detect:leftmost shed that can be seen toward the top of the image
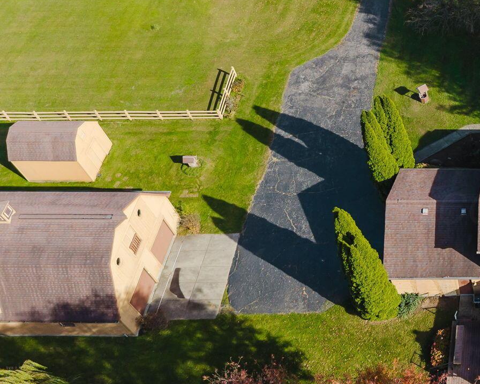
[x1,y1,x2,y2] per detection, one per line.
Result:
[8,122,111,180]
